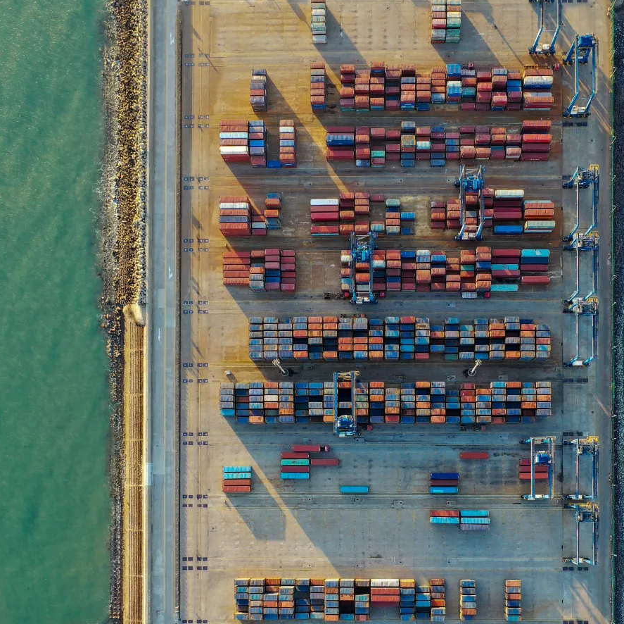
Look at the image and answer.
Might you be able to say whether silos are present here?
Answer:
No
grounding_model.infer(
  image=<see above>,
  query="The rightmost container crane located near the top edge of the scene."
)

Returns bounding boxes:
[565,30,605,115]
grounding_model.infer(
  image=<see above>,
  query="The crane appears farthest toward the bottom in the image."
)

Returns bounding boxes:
[564,503,605,568]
